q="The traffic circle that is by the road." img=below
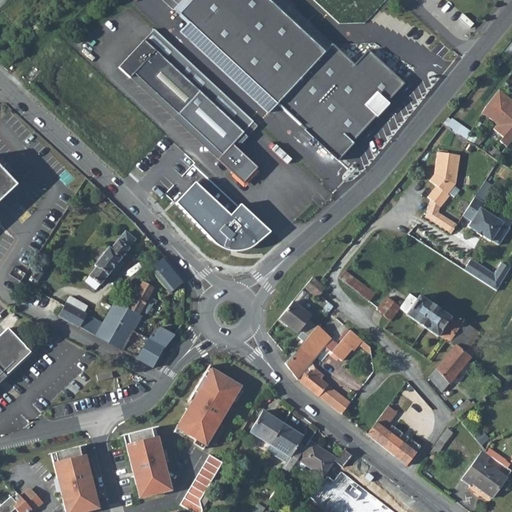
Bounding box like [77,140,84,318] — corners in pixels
[196,278,264,346]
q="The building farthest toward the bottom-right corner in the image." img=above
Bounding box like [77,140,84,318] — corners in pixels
[461,449,510,500]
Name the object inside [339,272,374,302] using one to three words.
barn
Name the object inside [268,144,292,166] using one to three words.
truck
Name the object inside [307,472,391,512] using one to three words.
building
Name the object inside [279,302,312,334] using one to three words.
house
